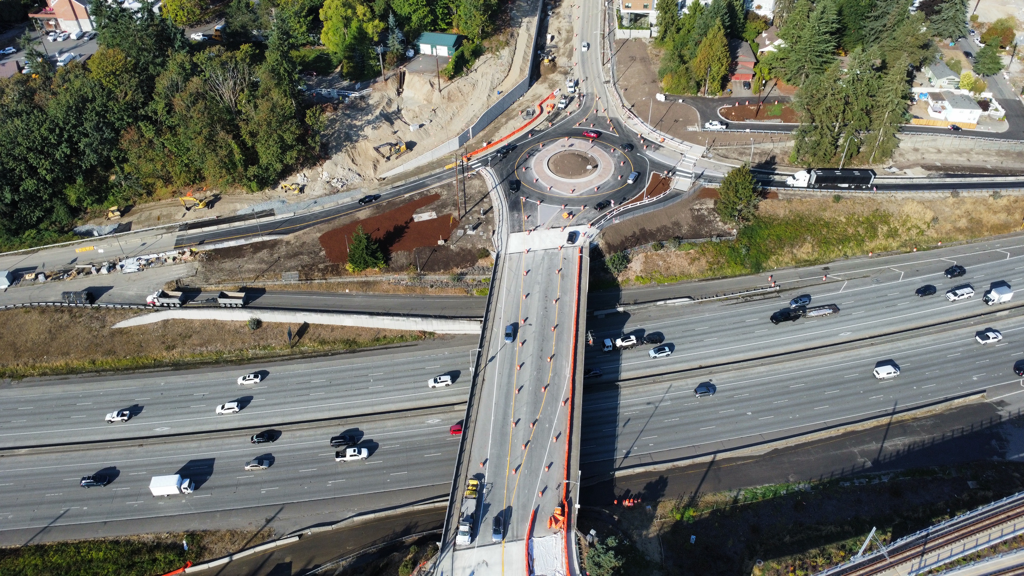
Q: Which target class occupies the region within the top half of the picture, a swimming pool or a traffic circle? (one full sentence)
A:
The feature located within the top half of the picture is a traffic circle.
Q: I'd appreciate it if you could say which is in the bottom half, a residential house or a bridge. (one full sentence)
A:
What appears in the bottom half is a bridge.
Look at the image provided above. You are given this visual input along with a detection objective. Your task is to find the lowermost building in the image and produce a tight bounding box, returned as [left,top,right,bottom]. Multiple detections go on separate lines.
[926,90,986,122]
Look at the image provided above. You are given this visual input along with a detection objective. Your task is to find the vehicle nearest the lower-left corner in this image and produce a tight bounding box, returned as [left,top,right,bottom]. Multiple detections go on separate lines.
[79,475,110,490]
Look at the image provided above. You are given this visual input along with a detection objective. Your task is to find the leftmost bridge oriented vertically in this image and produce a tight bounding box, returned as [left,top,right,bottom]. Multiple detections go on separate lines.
[441,242,588,557]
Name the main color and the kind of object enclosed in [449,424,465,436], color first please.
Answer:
red vehicle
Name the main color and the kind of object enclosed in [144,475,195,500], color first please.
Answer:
white truck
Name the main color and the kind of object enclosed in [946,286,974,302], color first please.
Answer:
white vehicle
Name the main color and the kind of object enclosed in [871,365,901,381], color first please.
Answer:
white vehicle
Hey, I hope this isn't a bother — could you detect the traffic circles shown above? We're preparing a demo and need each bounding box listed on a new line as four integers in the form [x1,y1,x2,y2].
[516,137,633,197]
